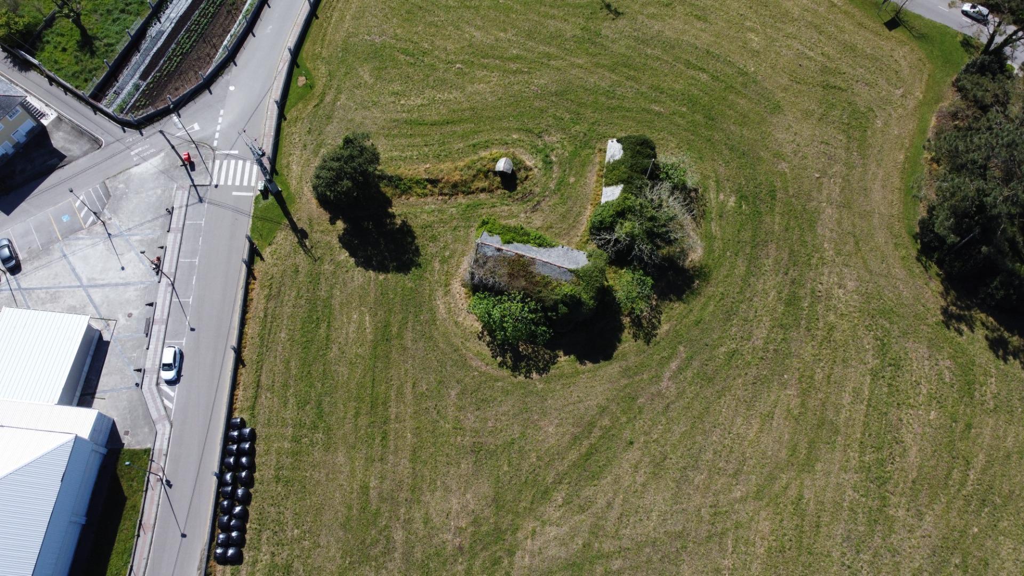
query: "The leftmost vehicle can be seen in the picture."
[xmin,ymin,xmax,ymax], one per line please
[0,238,24,273]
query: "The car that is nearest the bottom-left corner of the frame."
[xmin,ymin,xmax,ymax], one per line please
[160,347,185,384]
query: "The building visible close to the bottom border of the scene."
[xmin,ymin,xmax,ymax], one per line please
[0,425,108,576]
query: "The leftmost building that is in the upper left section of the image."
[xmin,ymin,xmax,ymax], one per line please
[0,82,47,173]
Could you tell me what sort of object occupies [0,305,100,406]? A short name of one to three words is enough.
shed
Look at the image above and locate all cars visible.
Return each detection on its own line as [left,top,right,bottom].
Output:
[0,238,24,273]
[960,4,995,27]
[160,347,185,384]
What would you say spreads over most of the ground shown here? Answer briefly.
grass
